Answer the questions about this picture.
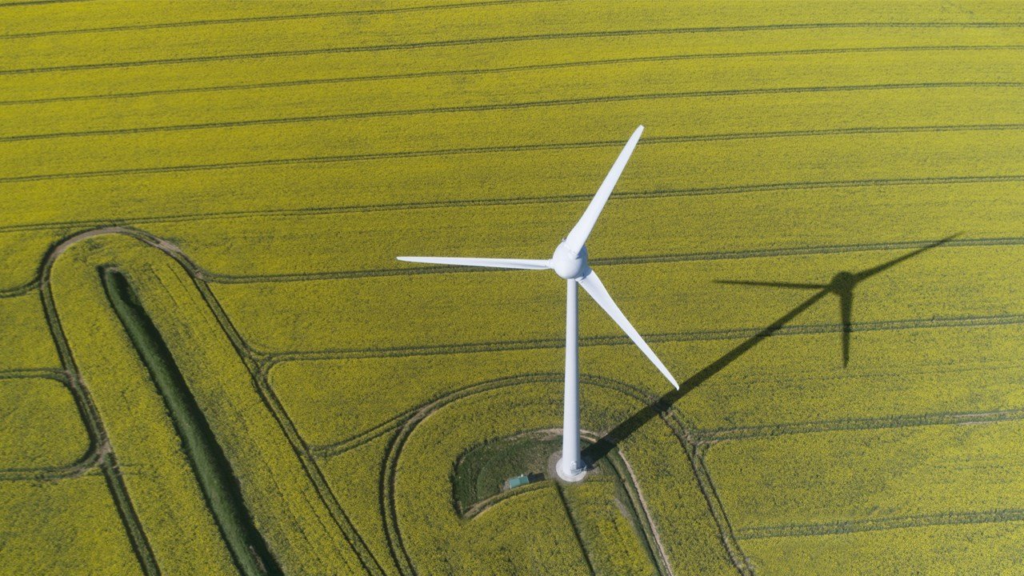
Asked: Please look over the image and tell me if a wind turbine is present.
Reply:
Yes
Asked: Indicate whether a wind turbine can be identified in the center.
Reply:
Yes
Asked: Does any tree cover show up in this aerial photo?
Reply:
No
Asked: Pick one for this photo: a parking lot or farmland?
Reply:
farmland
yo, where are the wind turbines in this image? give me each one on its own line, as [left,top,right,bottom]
[397,121,680,482]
